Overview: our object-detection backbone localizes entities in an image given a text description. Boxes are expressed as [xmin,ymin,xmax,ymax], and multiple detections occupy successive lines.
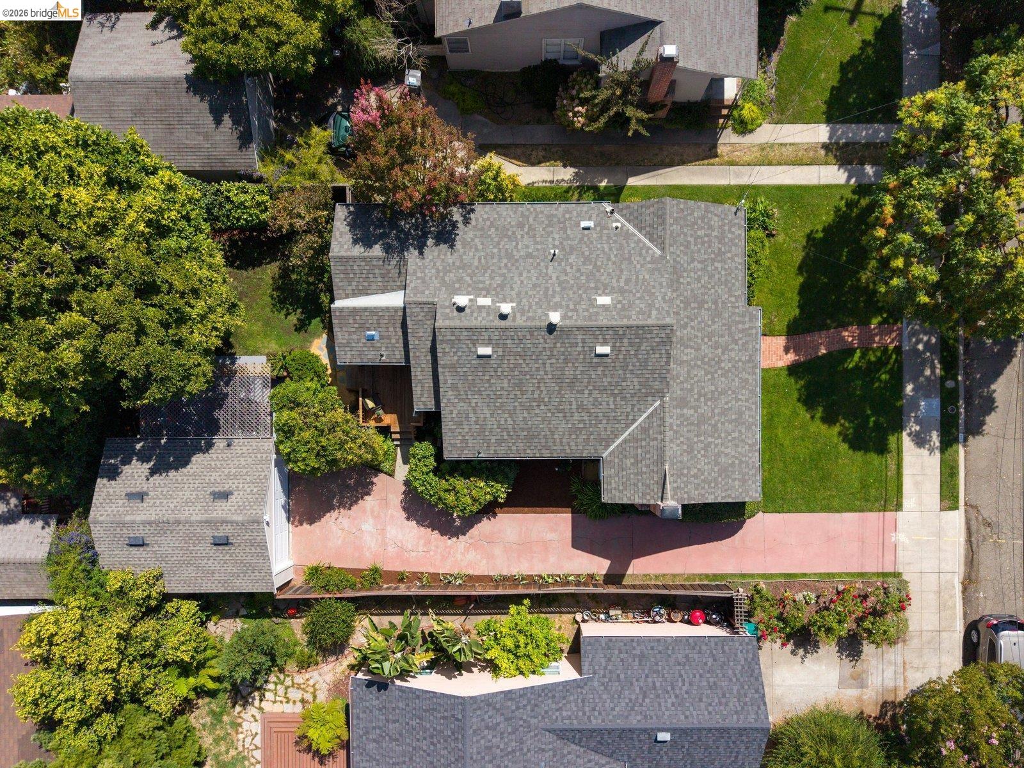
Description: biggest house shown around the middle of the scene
[328,196,765,524]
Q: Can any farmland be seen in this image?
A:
No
